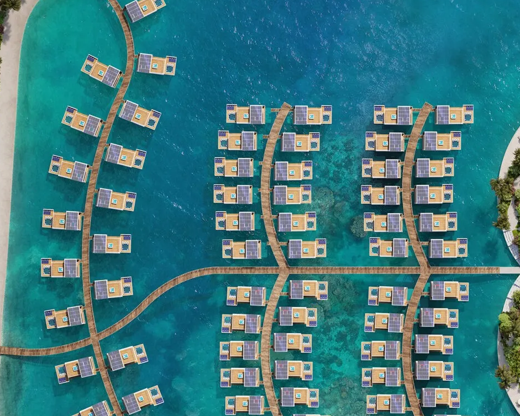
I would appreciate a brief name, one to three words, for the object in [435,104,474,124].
house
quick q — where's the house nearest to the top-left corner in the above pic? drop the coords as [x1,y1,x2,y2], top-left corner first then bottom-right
[81,53,123,88]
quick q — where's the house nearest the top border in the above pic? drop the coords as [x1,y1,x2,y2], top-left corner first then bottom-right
[124,0,167,22]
